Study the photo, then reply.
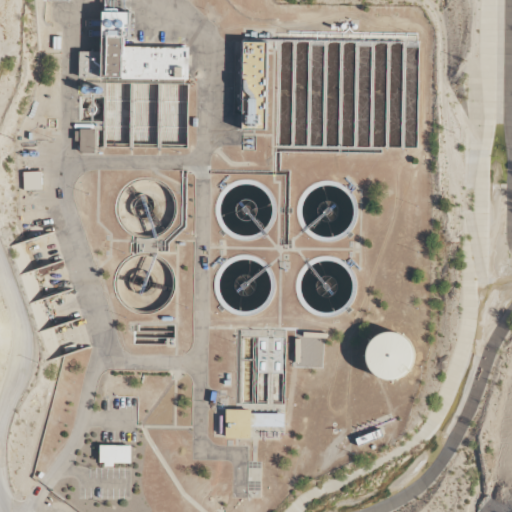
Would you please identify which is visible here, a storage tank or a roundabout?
storage tank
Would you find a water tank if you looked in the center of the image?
Yes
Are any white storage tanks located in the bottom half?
Yes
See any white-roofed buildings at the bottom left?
Yes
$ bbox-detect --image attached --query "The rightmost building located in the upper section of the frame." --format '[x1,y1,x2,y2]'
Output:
[242,41,267,130]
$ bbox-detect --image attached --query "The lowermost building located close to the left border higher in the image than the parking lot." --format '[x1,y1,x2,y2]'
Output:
[23,168,42,190]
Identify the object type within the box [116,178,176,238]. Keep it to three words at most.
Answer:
water tank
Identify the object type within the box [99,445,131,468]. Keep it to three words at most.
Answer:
building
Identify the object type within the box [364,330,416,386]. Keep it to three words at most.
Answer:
storage tank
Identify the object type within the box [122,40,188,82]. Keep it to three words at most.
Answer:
building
